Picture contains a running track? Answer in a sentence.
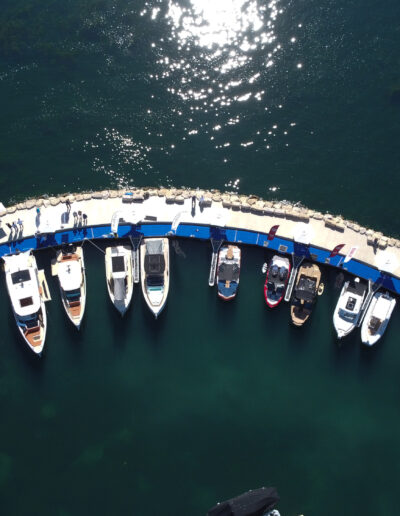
No, there's no running track here.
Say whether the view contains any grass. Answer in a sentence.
No, no grass is visible.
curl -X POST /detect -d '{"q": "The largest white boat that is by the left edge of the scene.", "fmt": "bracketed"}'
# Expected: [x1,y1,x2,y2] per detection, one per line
[3,250,47,356]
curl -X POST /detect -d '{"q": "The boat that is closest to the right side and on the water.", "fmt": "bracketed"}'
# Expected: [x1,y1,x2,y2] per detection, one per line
[361,290,397,347]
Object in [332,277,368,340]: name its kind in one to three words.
boat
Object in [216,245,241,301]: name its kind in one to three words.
boat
